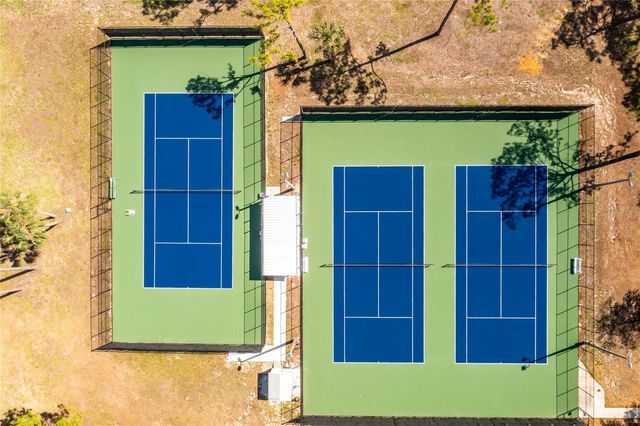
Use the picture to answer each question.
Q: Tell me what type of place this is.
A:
sports ground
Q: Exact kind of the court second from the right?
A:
tennis court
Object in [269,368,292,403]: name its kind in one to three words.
shed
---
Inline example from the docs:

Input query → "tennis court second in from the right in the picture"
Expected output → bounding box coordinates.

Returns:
[302,112,440,417]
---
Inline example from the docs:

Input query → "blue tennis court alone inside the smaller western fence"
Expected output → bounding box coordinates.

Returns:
[111,37,266,344]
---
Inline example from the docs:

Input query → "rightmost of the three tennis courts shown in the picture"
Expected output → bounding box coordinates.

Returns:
[440,112,579,417]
